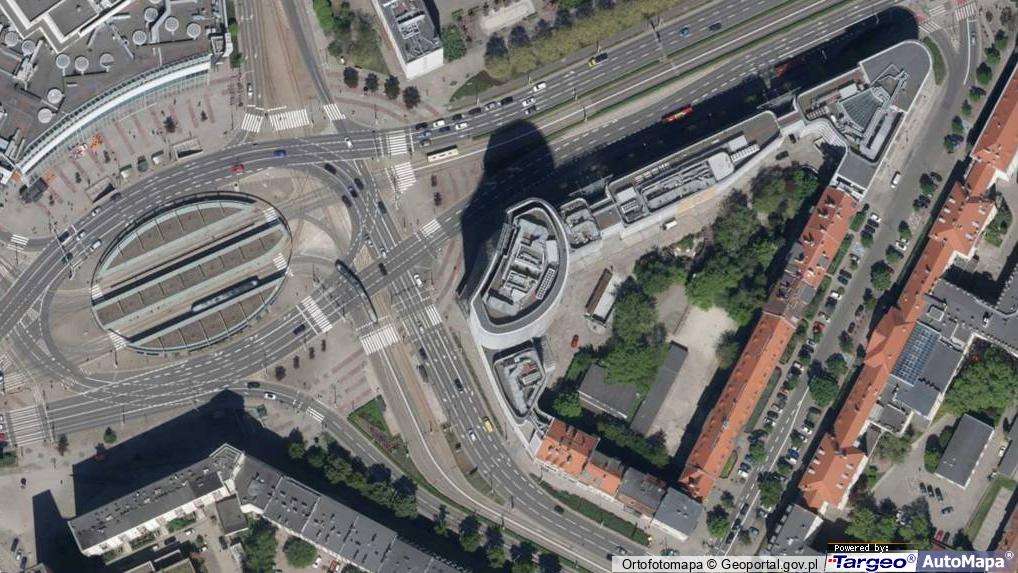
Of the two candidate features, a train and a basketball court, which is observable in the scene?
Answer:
train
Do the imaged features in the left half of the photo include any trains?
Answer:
Yes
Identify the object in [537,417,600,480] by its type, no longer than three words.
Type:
house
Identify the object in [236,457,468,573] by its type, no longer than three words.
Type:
building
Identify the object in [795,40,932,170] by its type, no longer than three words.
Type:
building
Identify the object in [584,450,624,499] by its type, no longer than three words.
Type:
house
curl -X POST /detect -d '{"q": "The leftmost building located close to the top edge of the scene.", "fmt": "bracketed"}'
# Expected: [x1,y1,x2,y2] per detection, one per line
[0,0,230,190]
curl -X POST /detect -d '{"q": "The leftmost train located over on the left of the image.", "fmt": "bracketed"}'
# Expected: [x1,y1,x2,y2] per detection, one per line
[193,281,257,312]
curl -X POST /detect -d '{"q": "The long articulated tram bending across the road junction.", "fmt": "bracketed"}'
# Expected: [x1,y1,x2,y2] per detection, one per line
[340,266,377,319]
